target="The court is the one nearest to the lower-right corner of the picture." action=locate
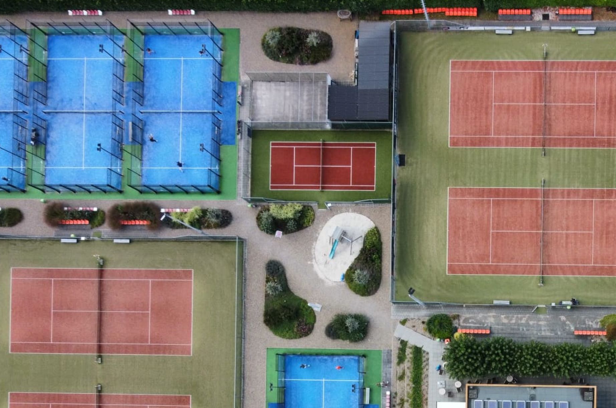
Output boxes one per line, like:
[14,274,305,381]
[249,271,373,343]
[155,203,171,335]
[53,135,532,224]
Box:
[446,179,616,283]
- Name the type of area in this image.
sports ground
